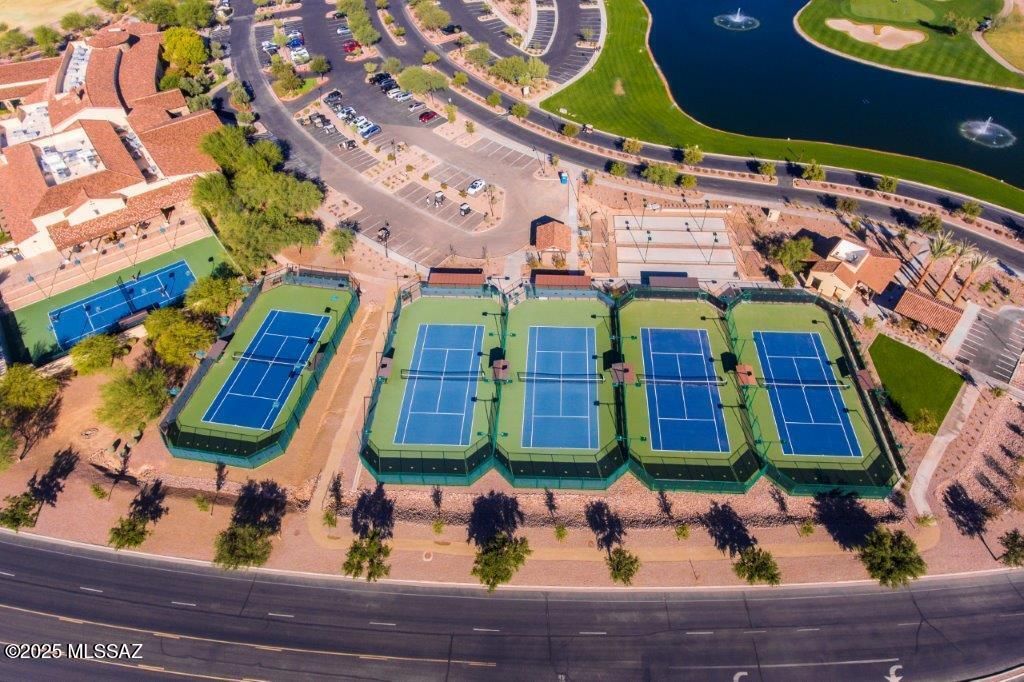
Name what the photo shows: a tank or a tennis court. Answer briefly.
tennis court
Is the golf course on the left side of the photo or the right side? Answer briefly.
right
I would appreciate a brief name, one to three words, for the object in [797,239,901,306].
building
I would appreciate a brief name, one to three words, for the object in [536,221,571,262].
building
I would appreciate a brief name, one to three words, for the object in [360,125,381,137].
vehicle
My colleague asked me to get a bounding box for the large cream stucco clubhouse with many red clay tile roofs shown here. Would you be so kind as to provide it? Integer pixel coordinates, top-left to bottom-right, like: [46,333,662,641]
[0,23,228,261]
